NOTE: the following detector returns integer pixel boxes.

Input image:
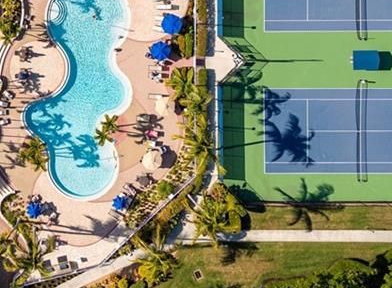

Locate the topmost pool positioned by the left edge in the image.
[19,0,132,203]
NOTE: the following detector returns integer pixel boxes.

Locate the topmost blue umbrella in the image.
[160,14,181,34]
